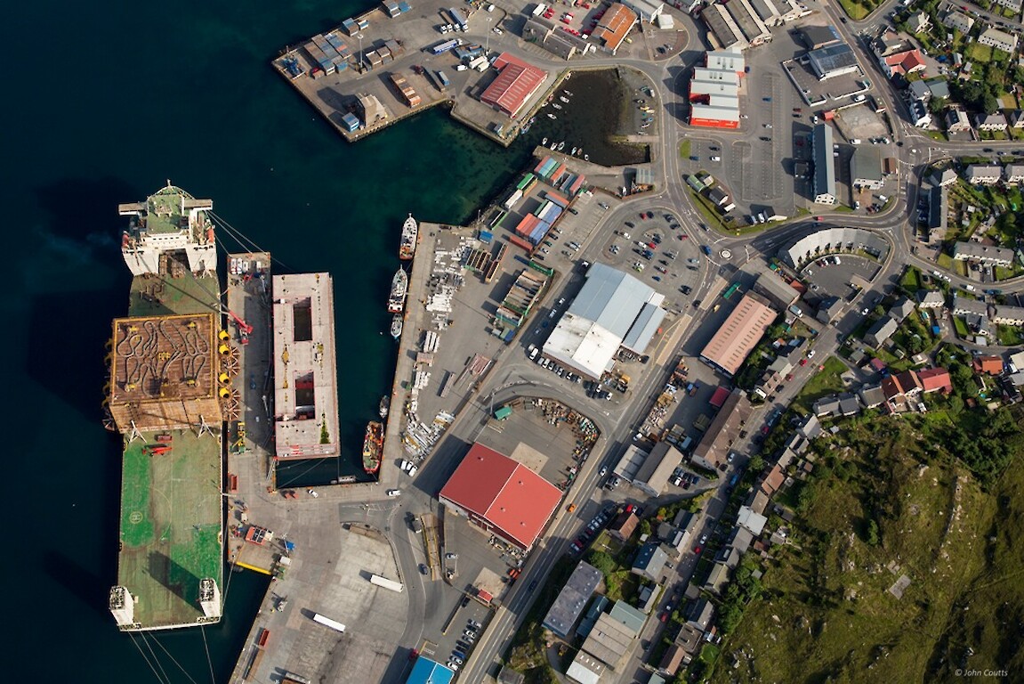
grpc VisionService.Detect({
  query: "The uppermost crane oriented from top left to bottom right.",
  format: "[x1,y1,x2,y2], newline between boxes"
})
[173,256,254,349]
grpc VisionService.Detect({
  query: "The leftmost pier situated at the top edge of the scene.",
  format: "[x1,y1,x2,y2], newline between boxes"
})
[272,0,449,145]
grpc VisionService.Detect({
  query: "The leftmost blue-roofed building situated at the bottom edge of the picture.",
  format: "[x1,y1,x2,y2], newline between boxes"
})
[403,654,456,684]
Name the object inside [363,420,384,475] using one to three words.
boat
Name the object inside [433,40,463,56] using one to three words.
vehicle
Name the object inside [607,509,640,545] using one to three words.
house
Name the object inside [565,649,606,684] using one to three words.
shed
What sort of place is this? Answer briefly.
port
